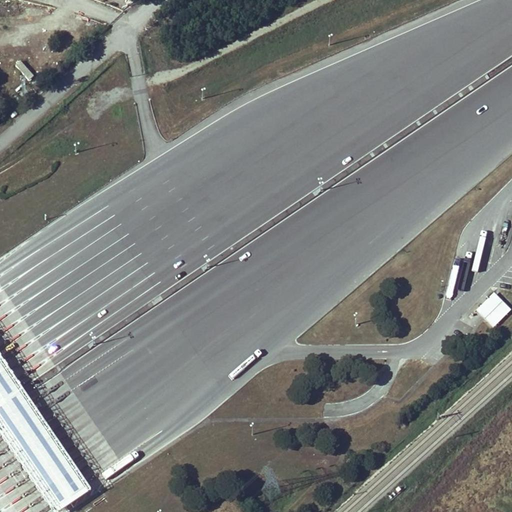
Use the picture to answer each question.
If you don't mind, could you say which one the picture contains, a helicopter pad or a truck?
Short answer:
truck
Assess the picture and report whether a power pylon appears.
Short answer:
Yes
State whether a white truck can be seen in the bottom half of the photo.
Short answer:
Yes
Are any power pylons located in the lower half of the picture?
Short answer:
Yes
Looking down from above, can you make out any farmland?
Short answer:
No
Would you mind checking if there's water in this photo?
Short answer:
No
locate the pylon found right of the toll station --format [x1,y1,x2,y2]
[257,464,286,507]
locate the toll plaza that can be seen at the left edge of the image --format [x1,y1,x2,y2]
[0,352,90,512]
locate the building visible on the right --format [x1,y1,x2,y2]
[478,294,512,328]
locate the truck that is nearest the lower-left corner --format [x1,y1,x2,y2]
[100,452,140,482]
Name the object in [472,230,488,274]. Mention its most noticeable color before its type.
white vehicle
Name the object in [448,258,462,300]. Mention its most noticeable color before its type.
white vehicle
